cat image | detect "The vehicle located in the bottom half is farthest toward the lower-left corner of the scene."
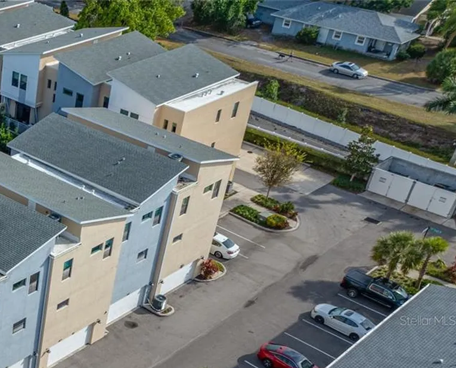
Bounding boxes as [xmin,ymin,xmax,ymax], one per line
[210,232,240,260]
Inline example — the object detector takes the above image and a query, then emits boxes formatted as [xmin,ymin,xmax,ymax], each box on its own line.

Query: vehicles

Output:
[210,232,240,260]
[310,303,379,342]
[256,343,317,368]
[329,63,368,78]
[343,271,418,314]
